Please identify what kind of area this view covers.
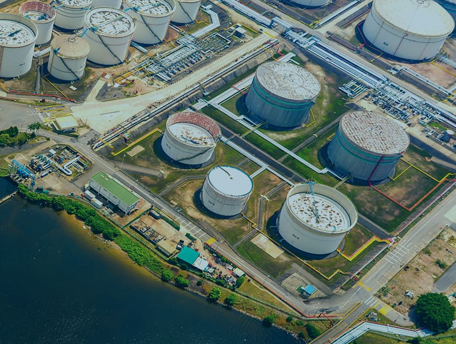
industrial area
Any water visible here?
Yes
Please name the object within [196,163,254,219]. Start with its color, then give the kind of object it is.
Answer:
white storage tank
